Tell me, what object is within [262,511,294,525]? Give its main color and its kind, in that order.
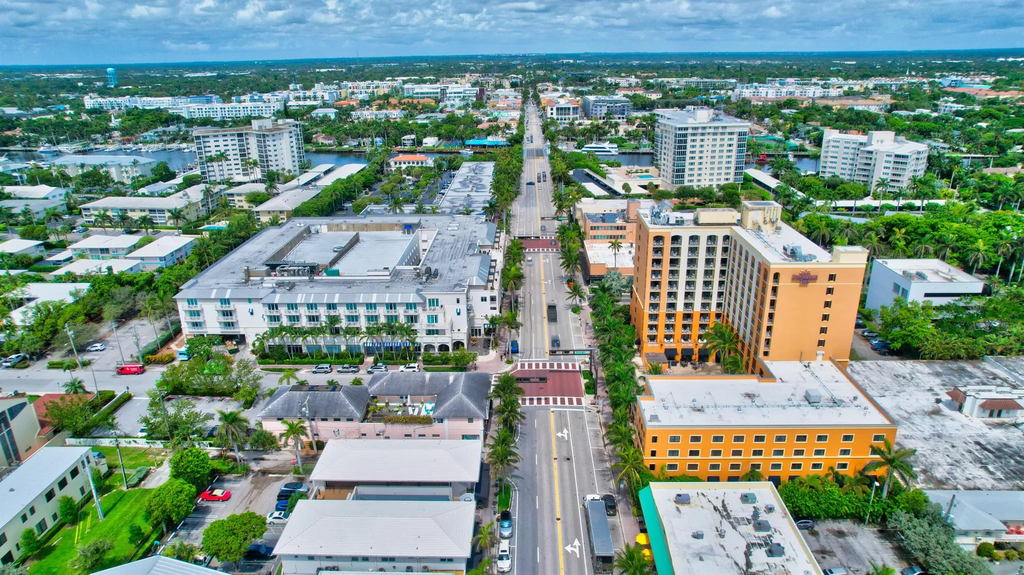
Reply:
white car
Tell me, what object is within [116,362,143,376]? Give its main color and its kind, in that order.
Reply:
red vehicle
